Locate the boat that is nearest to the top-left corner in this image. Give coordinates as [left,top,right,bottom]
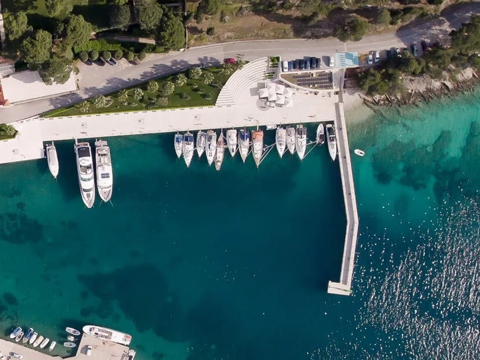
[46,143,59,178]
